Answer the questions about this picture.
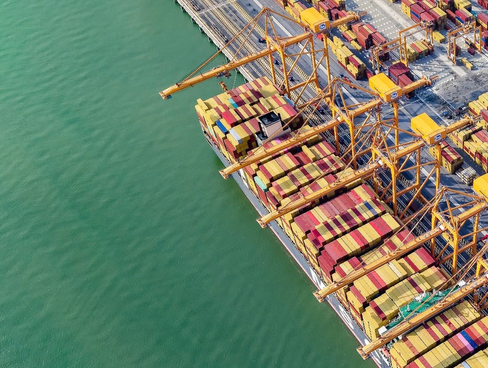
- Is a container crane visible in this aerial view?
Yes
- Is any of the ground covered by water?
Yes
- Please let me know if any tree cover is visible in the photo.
No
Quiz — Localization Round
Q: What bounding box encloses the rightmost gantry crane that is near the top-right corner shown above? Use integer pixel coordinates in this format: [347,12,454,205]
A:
[447,19,484,65]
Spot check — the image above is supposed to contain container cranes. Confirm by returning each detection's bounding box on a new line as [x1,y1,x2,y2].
[394,14,438,63]
[447,19,484,65]
[259,114,477,231]
[161,4,361,107]
[314,171,488,303]
[366,30,404,74]
[358,242,488,362]
[221,73,433,181]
